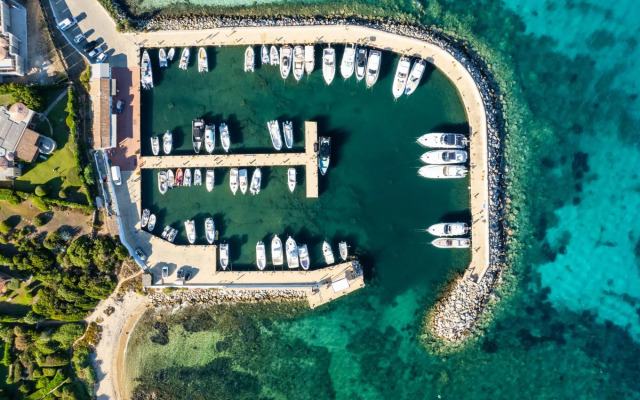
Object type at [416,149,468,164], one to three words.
boat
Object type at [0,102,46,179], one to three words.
house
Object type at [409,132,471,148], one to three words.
boat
